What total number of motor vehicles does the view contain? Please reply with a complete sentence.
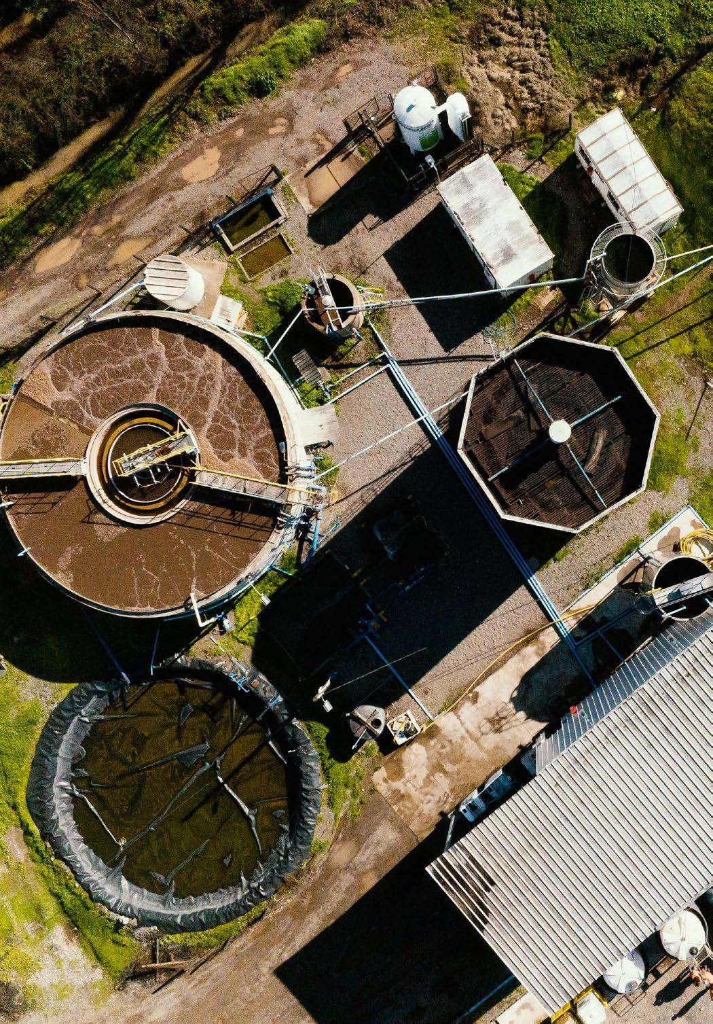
The photo contains 2 motor vehicles.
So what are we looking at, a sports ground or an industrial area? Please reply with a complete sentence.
This looks like an industrial area.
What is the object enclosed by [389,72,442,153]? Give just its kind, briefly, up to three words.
storage tank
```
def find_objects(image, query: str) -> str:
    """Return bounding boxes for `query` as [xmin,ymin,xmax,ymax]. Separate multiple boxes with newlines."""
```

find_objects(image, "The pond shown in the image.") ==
[26,655,320,933]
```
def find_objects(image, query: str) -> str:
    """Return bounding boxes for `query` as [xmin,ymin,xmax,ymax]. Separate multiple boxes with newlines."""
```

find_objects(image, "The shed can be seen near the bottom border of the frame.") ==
[426,631,713,1020]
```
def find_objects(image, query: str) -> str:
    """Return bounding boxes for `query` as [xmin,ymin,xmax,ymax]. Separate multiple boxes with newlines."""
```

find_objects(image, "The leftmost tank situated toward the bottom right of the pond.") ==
[347,701,388,749]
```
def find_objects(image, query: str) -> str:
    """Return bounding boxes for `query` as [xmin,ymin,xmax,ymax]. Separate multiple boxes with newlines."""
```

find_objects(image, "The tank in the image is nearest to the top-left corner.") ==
[147,257,202,309]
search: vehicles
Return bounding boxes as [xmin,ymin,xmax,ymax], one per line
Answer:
[518,745,538,779]
[455,770,523,834]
